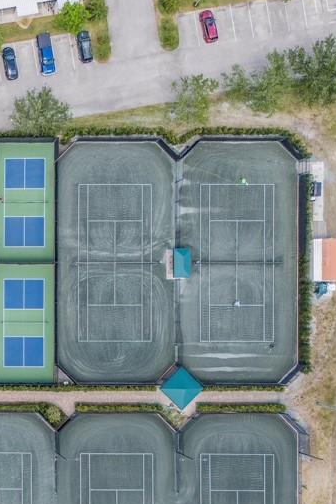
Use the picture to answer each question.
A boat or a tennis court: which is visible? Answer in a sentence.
The image shows a tennis court.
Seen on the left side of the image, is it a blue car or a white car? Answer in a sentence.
What appears on the left side of the image is a blue car.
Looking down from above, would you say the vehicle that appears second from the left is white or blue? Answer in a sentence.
In this view, the vehicle that appears second from the left is blue.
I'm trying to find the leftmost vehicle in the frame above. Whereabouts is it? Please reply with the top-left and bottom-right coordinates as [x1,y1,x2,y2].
[2,46,19,80]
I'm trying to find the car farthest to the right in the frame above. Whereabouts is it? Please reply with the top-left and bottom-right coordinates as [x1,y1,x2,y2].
[201,9,220,43]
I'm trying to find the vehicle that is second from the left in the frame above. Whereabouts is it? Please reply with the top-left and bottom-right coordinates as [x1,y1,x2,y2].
[38,32,58,75]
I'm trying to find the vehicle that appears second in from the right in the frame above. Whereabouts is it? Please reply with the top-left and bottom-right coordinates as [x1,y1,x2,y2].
[77,29,95,63]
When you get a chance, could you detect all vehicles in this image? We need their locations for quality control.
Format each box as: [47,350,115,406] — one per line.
[77,29,95,63]
[38,32,58,75]
[201,9,220,43]
[2,46,19,80]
